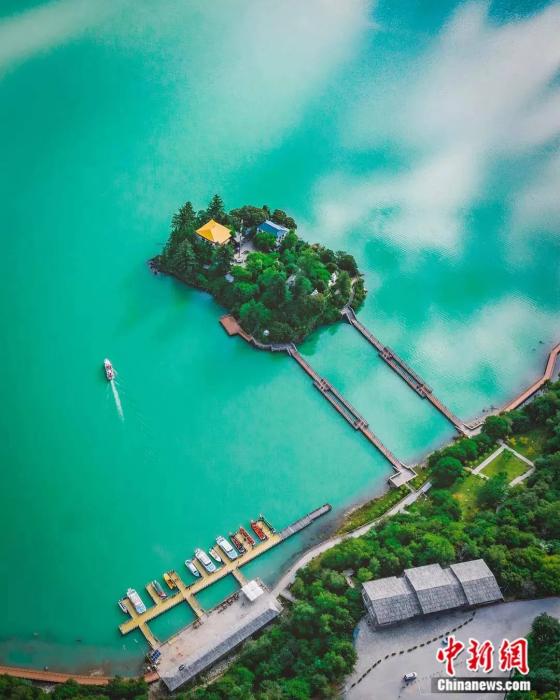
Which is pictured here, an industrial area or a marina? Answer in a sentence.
The picture captures a marina.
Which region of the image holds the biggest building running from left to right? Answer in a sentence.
The biggest building running from left to right is in the bottom right part of the image.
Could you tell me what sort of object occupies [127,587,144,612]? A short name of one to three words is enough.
boat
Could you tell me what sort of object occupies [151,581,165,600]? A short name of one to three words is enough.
boat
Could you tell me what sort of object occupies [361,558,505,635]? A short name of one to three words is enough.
building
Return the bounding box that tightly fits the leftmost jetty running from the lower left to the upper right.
[120,522,282,634]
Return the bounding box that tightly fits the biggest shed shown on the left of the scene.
[162,603,284,687]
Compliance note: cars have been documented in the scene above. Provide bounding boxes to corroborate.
[403,671,418,682]
[439,634,451,647]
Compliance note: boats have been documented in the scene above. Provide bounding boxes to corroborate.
[229,536,243,554]
[209,549,221,562]
[217,537,237,558]
[127,587,144,612]
[261,515,274,533]
[151,581,165,600]
[185,560,200,577]
[165,574,177,590]
[105,359,114,381]
[194,549,215,573]
[239,526,254,546]
[250,522,266,541]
